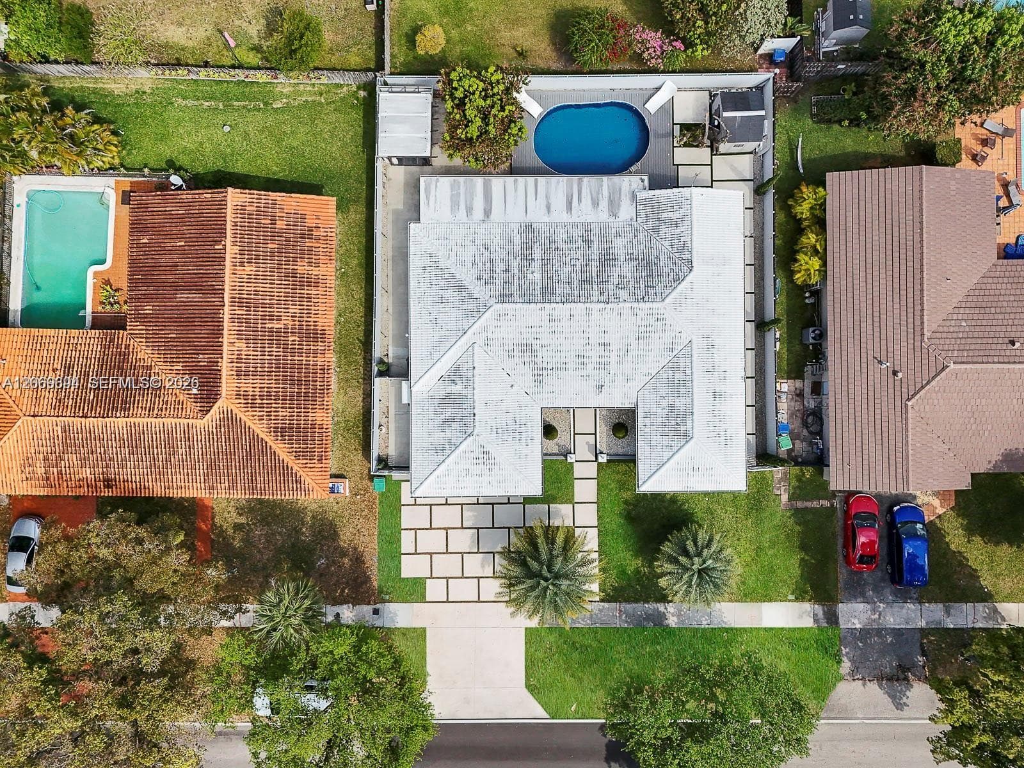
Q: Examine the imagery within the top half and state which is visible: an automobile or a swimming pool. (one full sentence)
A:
There is a swimming pool within the top half.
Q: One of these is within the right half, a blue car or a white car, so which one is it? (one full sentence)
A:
Visible within the right half is a blue car.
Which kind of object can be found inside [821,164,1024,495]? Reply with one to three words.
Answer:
house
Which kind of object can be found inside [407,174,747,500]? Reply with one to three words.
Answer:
house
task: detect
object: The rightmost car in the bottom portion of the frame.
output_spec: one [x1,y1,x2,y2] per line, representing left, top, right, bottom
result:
[887,502,934,583]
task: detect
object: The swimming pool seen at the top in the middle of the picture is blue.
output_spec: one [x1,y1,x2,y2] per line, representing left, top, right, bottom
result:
[533,100,650,174]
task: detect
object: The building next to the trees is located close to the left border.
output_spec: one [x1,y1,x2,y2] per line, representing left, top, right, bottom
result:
[0,186,333,499]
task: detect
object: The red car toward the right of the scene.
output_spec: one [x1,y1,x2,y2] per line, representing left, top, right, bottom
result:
[843,494,886,572]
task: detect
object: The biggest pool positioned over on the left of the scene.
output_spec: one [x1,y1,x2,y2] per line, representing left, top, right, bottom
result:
[14,185,114,329]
